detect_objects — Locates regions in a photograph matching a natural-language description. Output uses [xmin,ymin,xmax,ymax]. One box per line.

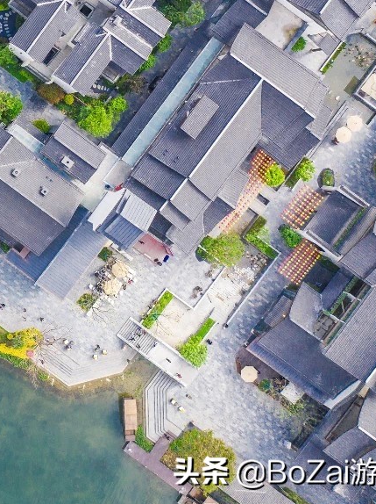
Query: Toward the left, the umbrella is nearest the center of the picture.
[111,259,129,278]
